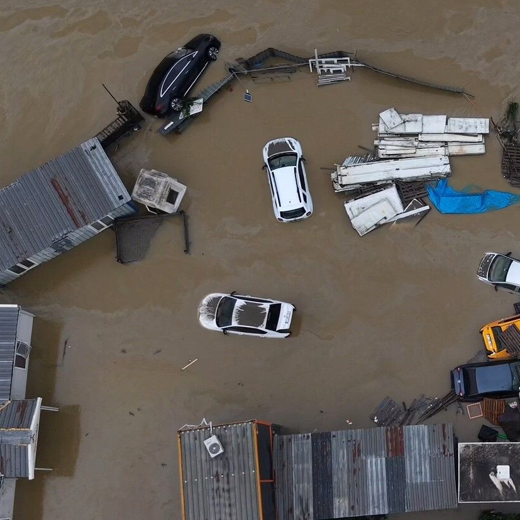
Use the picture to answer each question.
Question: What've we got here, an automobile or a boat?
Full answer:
The one in the frame is an automobile.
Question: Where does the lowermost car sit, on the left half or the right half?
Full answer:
The lowermost car sits on the right side.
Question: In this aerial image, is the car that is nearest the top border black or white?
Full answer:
In this view, the car that is nearest the top border is black.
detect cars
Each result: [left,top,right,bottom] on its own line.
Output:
[474,249,520,300]
[476,310,520,358]
[447,353,520,403]
[137,35,211,116]
[261,137,315,226]
[199,290,297,342]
